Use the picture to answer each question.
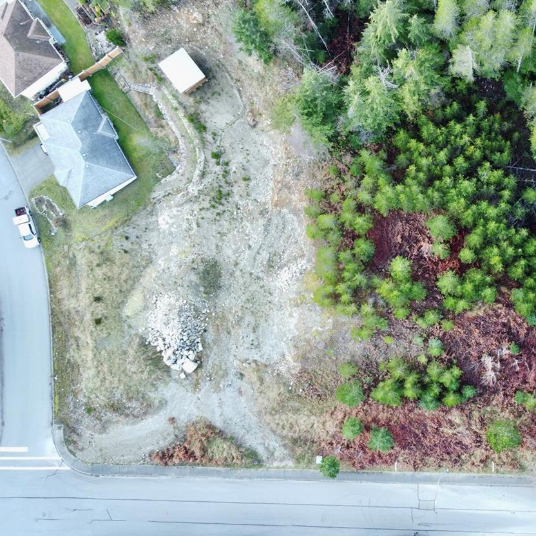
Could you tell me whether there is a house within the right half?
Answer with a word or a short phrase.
No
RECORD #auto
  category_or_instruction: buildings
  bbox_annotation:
[0,0,73,100]
[33,91,140,209]
[159,47,212,97]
